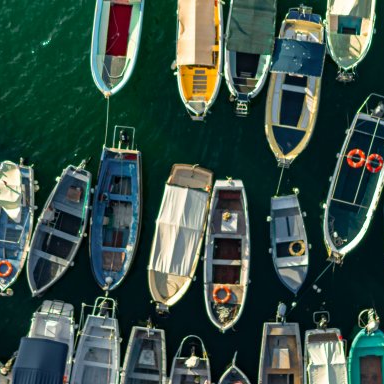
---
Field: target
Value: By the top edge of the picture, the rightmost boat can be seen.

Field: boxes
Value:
[326,0,376,79]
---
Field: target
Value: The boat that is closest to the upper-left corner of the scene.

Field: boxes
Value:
[87,0,143,101]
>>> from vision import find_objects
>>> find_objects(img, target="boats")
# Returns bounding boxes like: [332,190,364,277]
[326,0,376,79]
[87,0,143,101]
[0,151,35,296]
[262,0,327,167]
[259,307,304,384]
[87,126,142,295]
[345,309,384,384]
[172,336,212,384]
[269,194,310,296]
[121,310,170,384]
[174,0,222,123]
[203,180,251,336]
[147,163,213,313]
[305,307,348,384]
[11,301,79,384]
[225,0,276,115]
[27,154,93,297]
[221,365,249,384]
[324,95,384,262]
[67,296,120,384]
